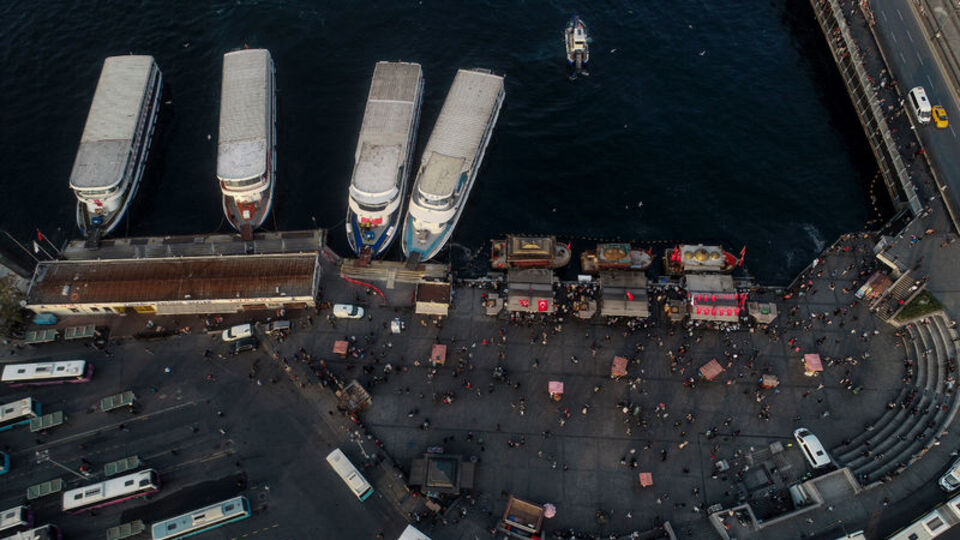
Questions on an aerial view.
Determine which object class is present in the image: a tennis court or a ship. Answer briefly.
ship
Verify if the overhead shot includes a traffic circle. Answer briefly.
No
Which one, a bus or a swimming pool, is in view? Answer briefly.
bus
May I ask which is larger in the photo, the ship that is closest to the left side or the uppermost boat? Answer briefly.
the ship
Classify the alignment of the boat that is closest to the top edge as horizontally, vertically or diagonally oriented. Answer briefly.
vertically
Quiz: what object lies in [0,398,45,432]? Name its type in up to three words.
bus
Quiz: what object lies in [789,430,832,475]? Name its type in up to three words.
vehicle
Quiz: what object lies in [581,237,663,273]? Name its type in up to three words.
boat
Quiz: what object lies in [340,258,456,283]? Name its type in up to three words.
pier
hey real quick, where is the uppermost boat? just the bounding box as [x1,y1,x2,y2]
[565,16,590,69]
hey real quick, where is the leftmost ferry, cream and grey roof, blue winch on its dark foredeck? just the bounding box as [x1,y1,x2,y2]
[69,50,164,241]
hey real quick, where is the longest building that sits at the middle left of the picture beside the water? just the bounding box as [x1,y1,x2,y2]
[23,253,321,322]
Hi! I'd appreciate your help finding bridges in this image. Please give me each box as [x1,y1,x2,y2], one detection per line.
[810,0,960,230]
